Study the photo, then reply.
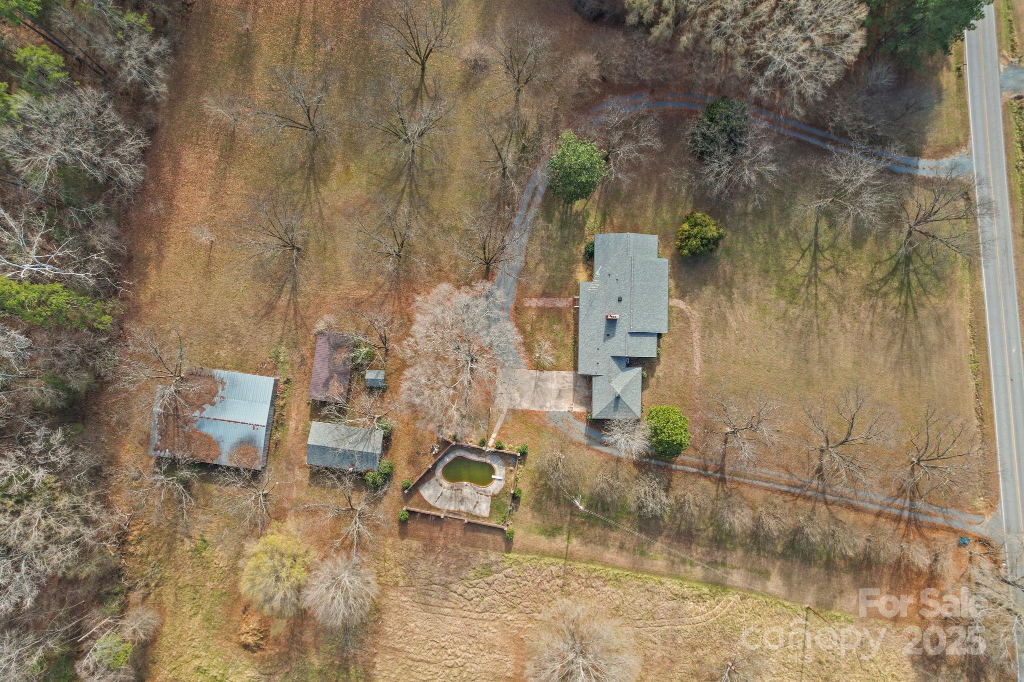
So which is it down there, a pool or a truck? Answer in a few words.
pool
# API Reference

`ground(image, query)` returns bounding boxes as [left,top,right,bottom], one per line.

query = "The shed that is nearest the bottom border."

[307,421,383,472]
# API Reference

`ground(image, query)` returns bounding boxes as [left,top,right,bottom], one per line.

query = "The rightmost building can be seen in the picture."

[574,232,668,420]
